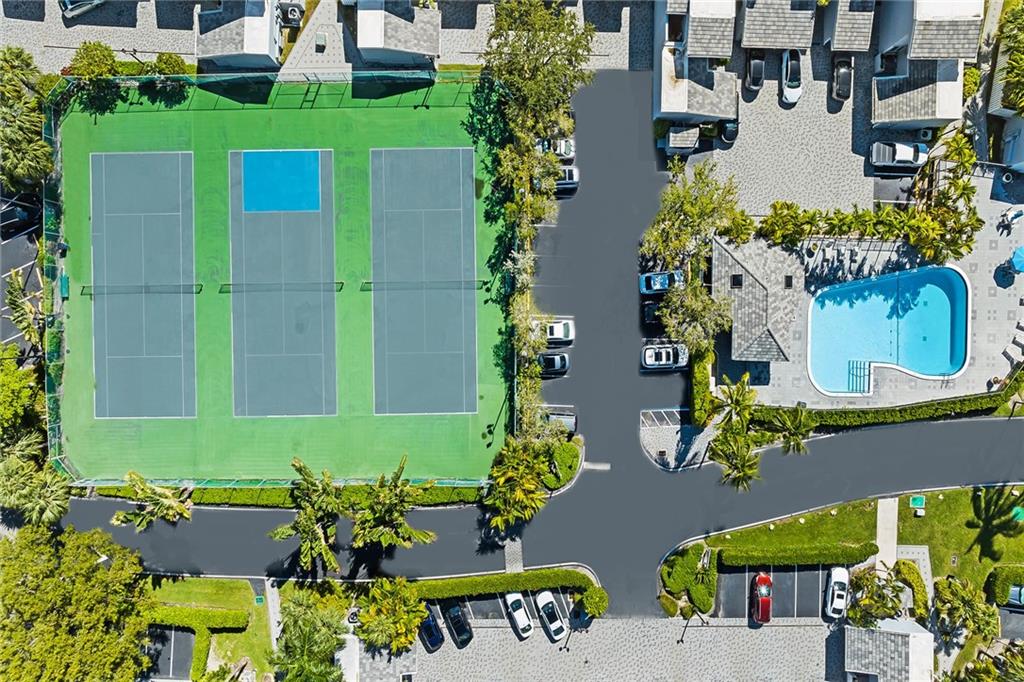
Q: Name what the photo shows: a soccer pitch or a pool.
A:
pool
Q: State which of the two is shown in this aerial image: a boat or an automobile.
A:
automobile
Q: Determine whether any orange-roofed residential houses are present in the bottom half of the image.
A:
No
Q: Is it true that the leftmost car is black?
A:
Yes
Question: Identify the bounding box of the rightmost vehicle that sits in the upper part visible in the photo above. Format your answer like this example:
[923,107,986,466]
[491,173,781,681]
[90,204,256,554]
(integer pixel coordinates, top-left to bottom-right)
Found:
[867,136,931,168]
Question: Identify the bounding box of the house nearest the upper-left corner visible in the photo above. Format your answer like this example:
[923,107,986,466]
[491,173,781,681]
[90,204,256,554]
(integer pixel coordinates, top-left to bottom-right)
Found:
[192,0,292,69]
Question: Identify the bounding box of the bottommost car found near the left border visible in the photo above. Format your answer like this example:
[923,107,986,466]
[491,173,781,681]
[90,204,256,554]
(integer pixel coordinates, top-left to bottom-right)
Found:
[0,199,41,238]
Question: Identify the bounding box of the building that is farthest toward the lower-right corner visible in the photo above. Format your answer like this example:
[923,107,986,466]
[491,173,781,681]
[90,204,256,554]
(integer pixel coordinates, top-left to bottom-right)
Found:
[845,617,933,682]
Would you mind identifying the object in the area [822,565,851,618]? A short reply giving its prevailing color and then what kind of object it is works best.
white car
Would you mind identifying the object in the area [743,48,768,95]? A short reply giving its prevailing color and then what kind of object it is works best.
black car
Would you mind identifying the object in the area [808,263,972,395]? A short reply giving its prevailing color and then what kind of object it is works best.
blue swimming pool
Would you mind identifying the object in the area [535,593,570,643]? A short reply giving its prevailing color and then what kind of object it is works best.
white car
